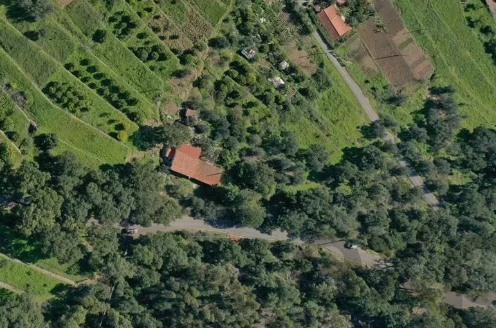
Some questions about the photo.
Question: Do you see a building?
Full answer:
Yes, the picture does show a building.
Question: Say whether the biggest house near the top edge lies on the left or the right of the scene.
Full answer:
The biggest house near the top edge sits on the right side.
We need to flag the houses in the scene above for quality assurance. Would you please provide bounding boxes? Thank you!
[314,5,351,40]
[170,143,223,186]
